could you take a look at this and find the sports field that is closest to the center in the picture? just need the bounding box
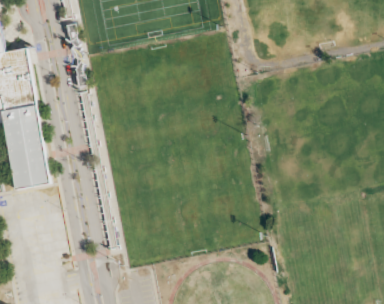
[90,30,266,268]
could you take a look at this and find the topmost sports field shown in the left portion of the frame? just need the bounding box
[80,0,223,52]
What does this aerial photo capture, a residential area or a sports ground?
sports ground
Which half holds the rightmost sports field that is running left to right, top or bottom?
top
